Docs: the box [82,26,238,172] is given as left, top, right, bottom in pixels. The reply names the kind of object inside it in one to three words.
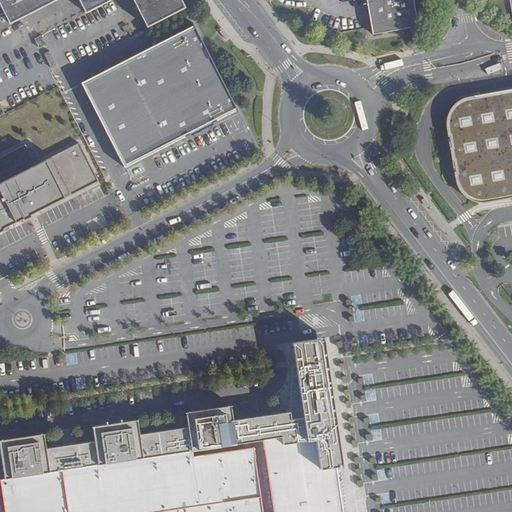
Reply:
building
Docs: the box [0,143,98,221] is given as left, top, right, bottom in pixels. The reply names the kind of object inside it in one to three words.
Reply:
building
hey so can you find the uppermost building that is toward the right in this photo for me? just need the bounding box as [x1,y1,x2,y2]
[366,0,416,36]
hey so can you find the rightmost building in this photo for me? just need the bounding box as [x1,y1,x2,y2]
[446,89,512,202]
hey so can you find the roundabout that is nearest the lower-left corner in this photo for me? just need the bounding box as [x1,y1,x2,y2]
[0,288,51,348]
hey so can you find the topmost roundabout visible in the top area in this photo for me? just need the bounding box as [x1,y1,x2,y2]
[280,66,379,164]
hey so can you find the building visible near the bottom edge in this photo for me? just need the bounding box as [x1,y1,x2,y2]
[0,337,348,512]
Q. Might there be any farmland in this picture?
No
